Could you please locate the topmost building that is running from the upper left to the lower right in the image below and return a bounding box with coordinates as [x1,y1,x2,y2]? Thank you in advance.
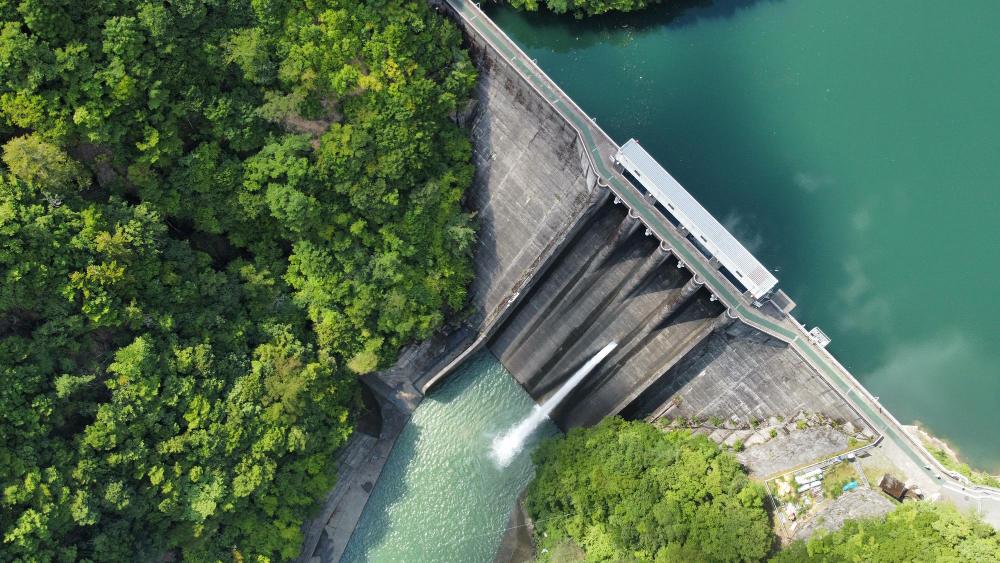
[614,137,781,297]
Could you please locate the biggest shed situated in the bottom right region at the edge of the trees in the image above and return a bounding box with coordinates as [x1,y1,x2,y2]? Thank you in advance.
[875,473,909,503]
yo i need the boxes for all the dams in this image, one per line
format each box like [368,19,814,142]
[443,0,1000,492]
